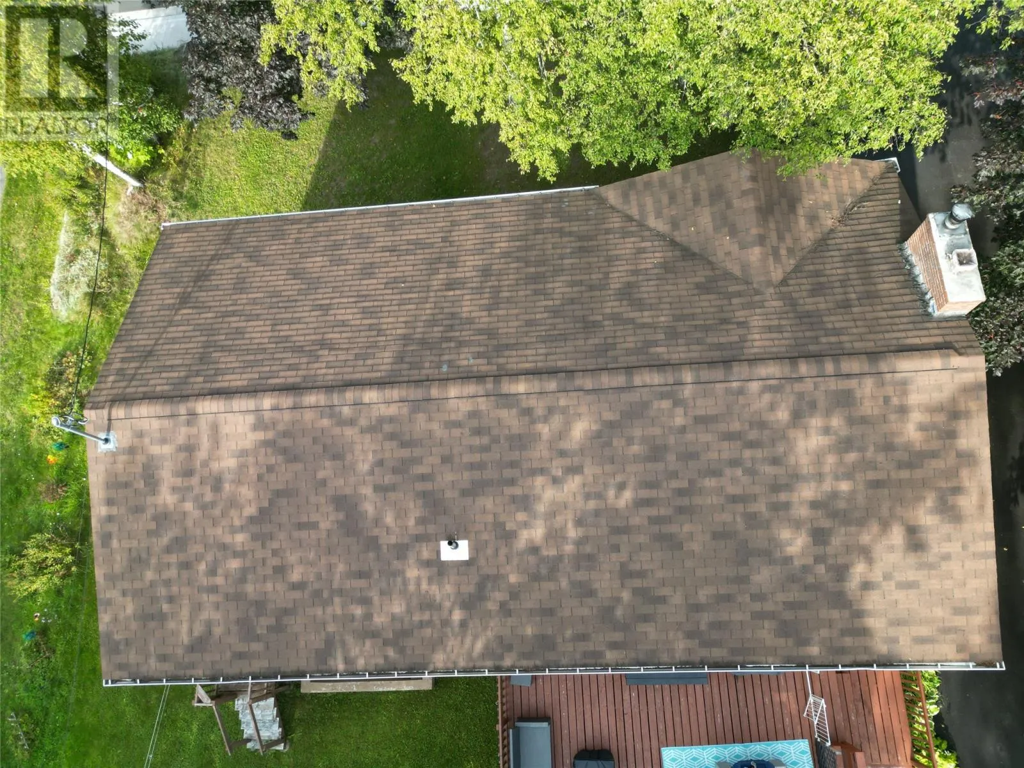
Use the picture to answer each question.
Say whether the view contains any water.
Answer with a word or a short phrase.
No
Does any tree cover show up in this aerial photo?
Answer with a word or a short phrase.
Yes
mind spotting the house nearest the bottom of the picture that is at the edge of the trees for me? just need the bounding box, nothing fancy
[56,140,1005,687]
